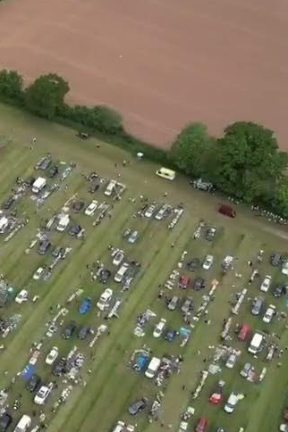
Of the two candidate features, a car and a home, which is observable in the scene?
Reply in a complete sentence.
The image shows a car.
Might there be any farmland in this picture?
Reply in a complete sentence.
Yes, farmland can be seen from above here.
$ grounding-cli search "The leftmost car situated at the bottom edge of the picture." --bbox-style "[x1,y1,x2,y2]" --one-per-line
[0,411,15,432]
